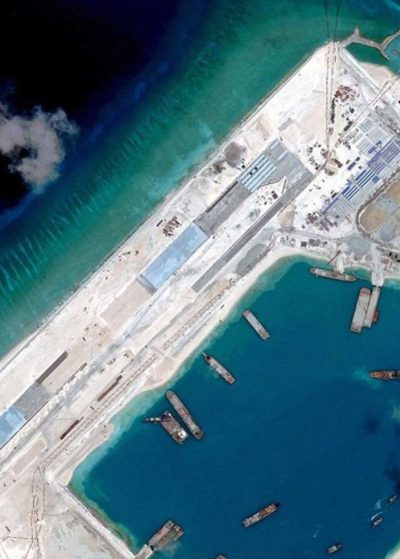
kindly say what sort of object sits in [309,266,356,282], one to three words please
ship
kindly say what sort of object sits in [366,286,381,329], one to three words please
ship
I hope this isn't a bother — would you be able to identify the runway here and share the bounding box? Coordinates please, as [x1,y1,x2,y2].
[0,154,275,451]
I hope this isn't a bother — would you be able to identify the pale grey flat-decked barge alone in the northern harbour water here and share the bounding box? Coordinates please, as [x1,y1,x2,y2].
[242,308,271,341]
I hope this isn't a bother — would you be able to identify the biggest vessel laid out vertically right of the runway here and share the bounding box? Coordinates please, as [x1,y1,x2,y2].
[350,287,371,334]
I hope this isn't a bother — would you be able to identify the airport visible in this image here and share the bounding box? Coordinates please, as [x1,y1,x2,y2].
[0,138,315,451]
